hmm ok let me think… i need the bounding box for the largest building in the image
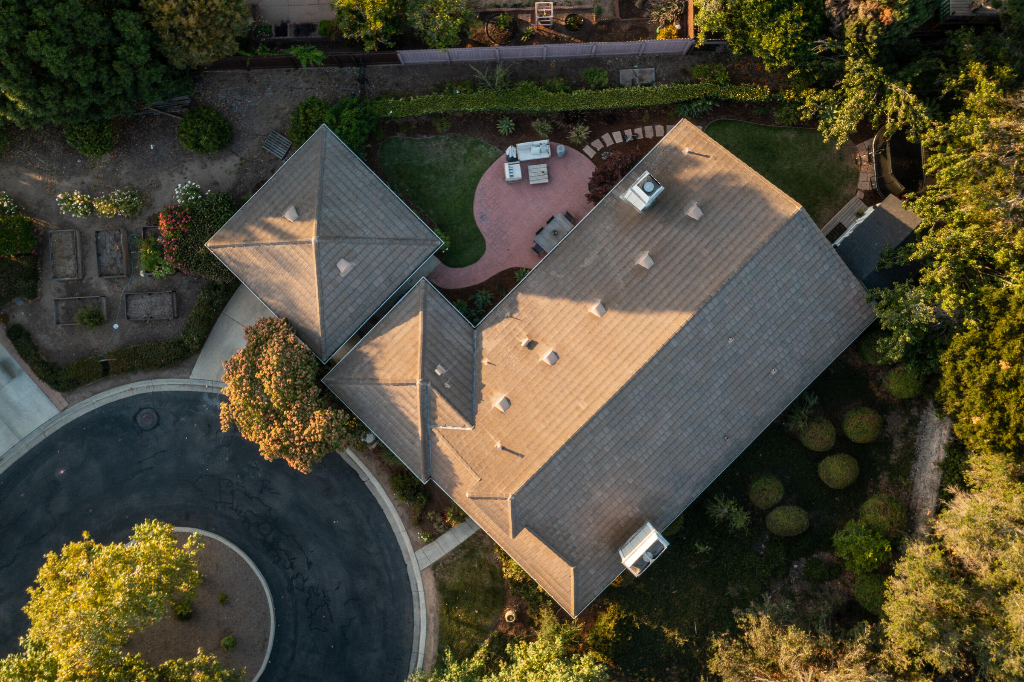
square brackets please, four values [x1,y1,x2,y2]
[319,118,878,621]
